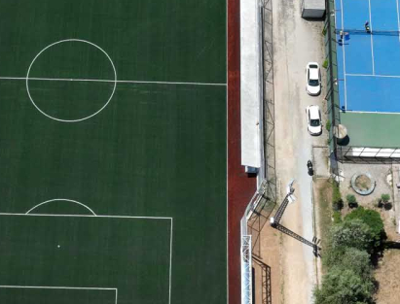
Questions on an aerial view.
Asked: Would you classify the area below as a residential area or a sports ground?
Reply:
sports ground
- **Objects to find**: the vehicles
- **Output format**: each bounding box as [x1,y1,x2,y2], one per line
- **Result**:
[305,65,321,96]
[309,159,315,175]
[307,106,323,137]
